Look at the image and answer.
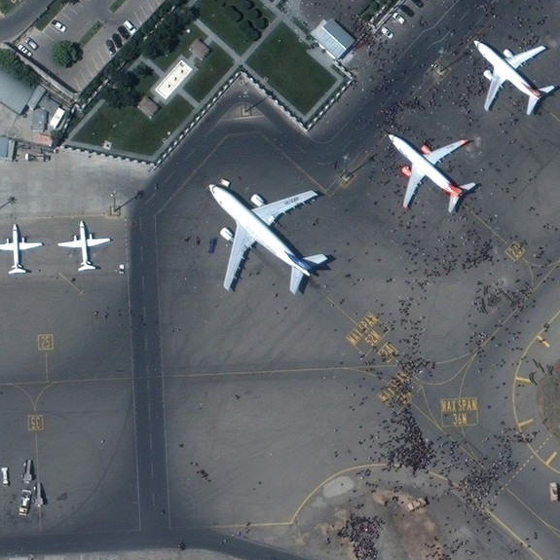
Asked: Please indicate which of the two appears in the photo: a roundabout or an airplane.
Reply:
airplane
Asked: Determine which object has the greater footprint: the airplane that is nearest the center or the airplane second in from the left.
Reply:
the airplane that is nearest the center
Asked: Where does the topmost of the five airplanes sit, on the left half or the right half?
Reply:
right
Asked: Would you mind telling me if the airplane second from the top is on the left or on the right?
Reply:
right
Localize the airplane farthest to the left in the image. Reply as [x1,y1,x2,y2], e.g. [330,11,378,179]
[0,225,42,272]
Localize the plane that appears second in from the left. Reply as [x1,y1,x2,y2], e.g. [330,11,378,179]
[58,222,110,269]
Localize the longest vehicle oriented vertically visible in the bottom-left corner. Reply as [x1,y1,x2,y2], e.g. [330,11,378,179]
[18,489,30,517]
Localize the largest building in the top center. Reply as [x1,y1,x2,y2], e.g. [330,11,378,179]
[313,19,356,61]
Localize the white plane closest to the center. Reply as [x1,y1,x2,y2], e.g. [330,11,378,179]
[209,185,325,291]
